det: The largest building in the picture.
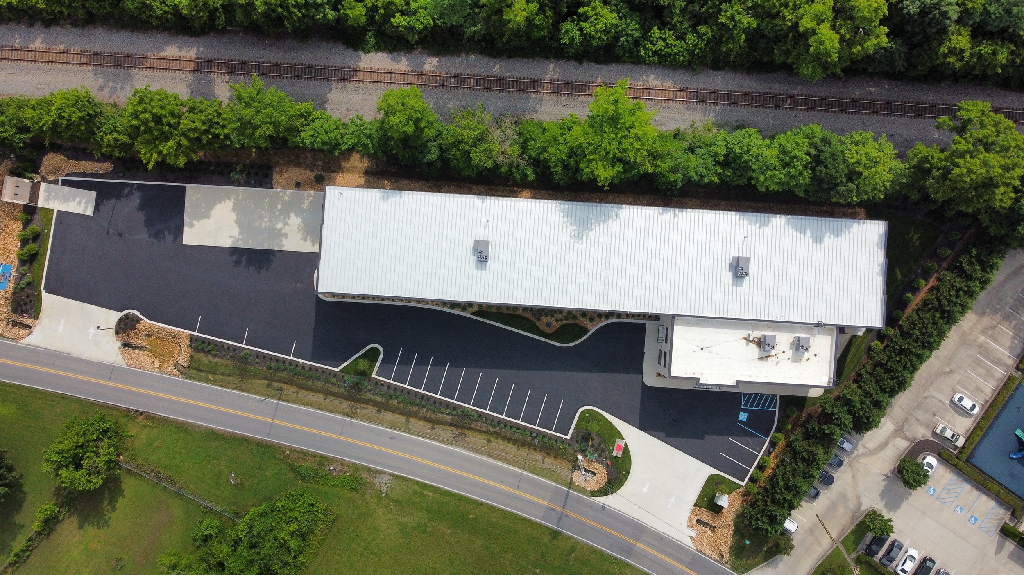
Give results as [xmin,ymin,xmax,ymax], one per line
[315,185,890,329]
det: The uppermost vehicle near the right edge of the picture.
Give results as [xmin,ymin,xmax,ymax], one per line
[949,391,979,416]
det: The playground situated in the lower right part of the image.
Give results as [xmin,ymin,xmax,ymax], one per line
[969,381,1024,498]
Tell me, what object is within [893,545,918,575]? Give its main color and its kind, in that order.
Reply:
white car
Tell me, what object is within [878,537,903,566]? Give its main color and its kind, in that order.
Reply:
gray car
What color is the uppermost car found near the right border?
white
